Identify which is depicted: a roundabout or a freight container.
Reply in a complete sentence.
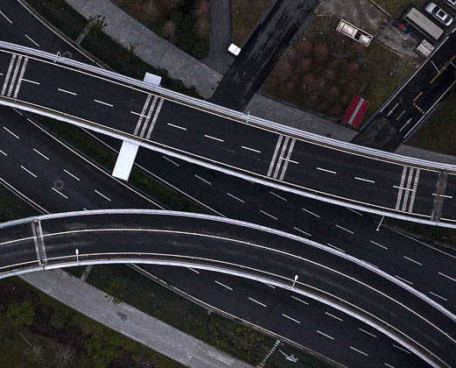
I can see a freight container in this picture.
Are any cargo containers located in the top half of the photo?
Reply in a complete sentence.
Yes, looking in the top half of the photo, one can make out a cargo container.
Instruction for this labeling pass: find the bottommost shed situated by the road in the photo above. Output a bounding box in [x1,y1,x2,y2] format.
[342,96,369,126]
